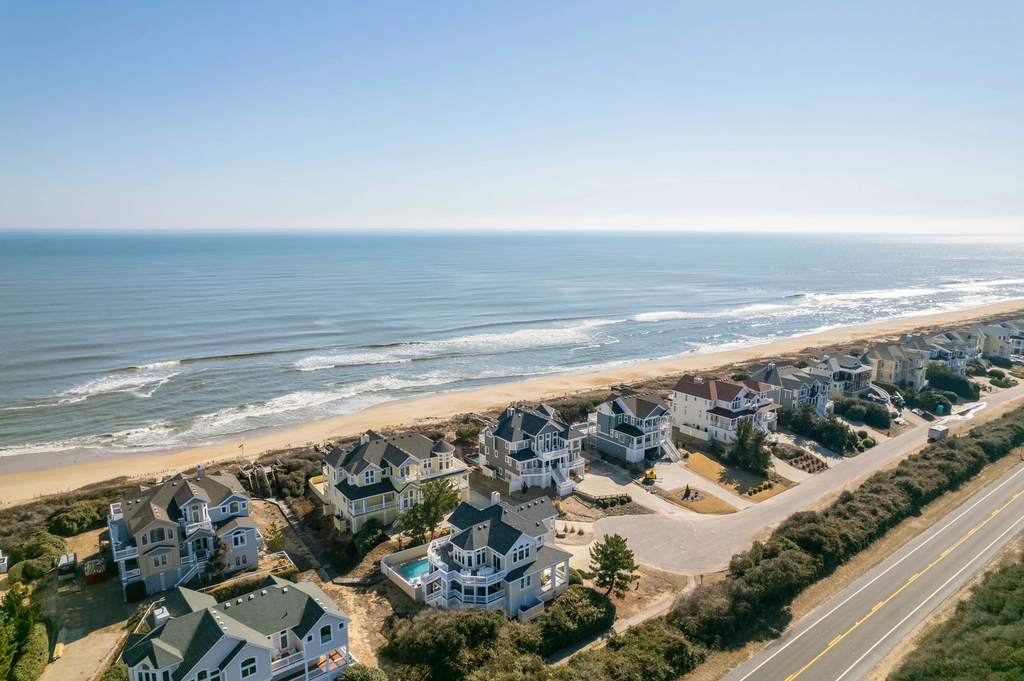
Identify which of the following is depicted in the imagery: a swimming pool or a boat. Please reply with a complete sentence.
Visible in the photo is a swimming pool.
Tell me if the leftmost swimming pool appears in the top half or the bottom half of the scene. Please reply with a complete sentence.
The leftmost swimming pool sits in the bottom half of the picture.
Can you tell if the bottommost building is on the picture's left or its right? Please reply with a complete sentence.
It is on the left.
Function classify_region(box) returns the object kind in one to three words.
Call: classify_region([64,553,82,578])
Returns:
vehicle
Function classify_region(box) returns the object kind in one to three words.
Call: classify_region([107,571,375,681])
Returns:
building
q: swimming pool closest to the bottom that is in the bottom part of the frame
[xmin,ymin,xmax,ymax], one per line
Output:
[387,554,439,596]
